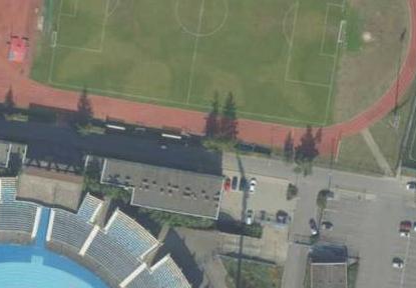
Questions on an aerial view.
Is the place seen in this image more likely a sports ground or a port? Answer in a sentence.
What you see here is a sports ground.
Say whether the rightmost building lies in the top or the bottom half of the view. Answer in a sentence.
The bottom half of the photo is where the rightmost building is.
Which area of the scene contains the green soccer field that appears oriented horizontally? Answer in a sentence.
Look in the top portion of the view to spot the green soccer field that appears oriented horizontally.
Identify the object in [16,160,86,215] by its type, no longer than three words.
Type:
building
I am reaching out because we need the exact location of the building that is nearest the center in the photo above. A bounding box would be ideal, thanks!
[101,158,223,220]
